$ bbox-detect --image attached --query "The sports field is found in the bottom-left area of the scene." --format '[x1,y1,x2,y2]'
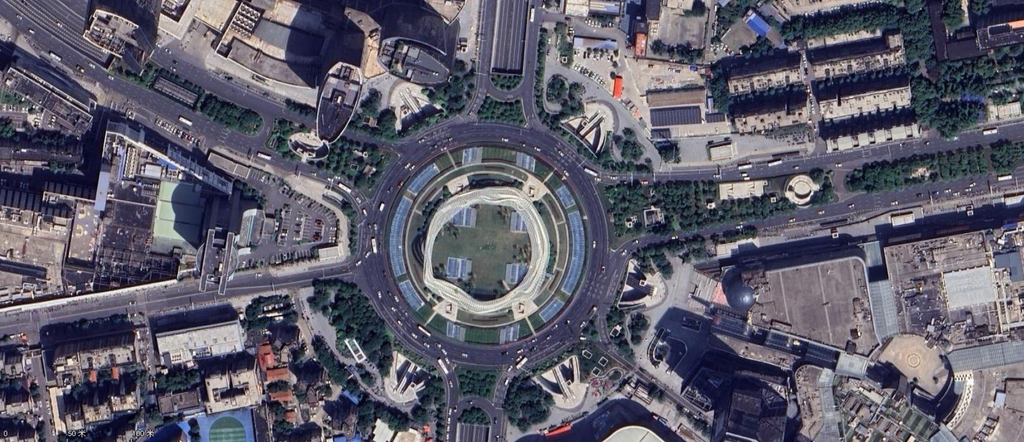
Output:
[209,417,245,442]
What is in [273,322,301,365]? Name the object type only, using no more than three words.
house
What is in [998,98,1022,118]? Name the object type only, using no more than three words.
shed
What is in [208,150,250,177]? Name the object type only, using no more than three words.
shed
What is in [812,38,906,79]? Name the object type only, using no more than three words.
building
